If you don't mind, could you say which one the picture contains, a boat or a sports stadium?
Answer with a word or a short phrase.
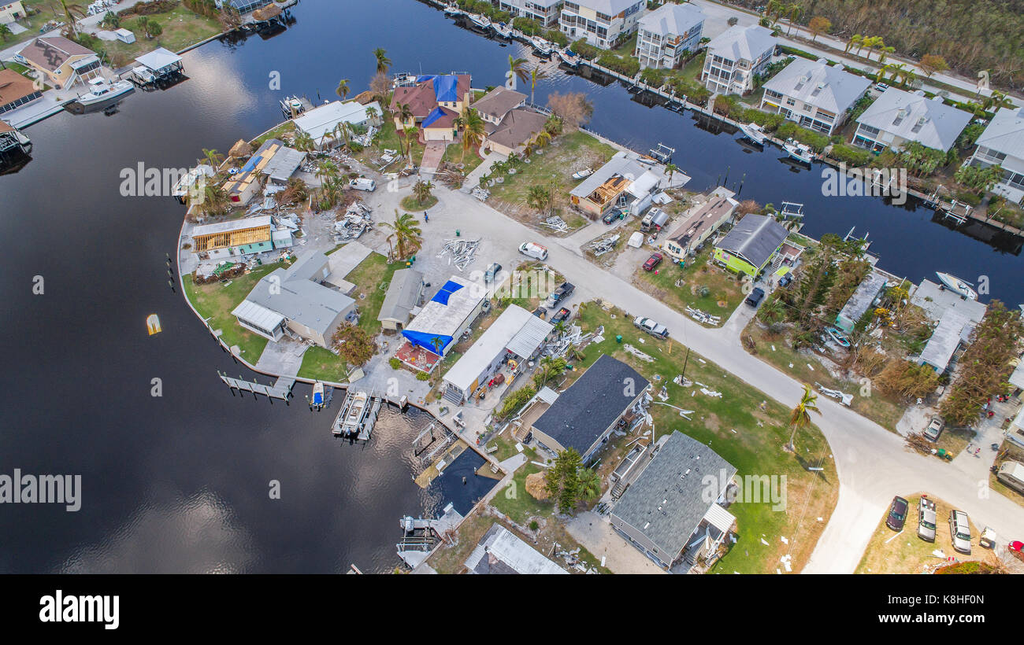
boat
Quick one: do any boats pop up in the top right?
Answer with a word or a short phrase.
Yes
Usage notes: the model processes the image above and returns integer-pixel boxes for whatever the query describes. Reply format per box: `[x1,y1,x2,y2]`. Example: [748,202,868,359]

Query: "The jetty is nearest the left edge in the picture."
[212,365,295,401]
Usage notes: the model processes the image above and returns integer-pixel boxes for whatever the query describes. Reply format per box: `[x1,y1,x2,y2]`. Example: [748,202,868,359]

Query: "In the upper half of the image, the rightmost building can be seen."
[965,106,1024,190]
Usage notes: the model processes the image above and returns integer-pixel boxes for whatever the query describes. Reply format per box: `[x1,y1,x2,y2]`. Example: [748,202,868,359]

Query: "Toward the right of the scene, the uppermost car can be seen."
[775,43,792,56]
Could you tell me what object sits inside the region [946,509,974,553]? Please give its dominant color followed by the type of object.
white car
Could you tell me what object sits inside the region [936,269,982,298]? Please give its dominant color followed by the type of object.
white boat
